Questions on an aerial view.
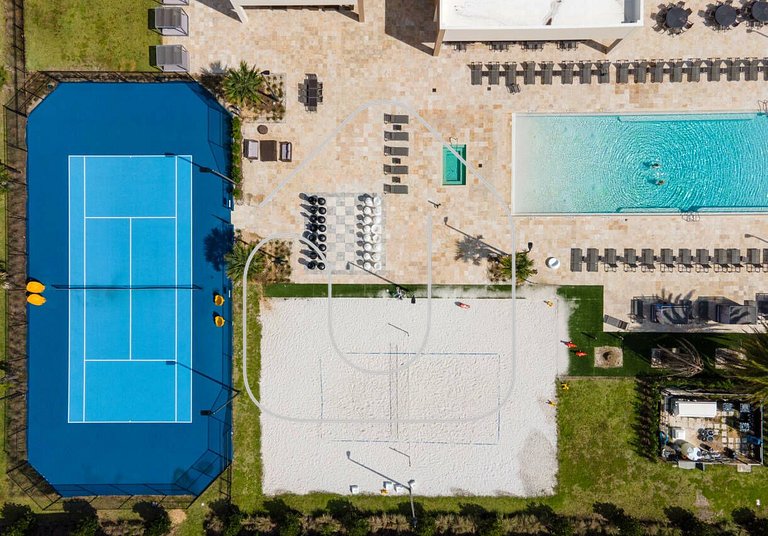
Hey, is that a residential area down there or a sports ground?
sports ground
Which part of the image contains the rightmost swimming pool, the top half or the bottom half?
top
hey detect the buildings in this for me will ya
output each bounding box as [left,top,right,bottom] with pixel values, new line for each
[230,0,364,22]
[434,0,646,55]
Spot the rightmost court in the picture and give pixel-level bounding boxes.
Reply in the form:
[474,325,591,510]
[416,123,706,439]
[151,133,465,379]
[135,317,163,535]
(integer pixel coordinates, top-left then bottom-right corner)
[258,297,560,498]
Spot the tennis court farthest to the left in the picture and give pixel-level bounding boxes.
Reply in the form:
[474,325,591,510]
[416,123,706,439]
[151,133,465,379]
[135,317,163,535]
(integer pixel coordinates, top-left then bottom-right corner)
[26,82,232,496]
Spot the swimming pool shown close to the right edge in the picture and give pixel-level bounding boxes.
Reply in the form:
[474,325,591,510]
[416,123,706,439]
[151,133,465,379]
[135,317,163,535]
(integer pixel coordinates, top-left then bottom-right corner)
[512,107,768,218]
